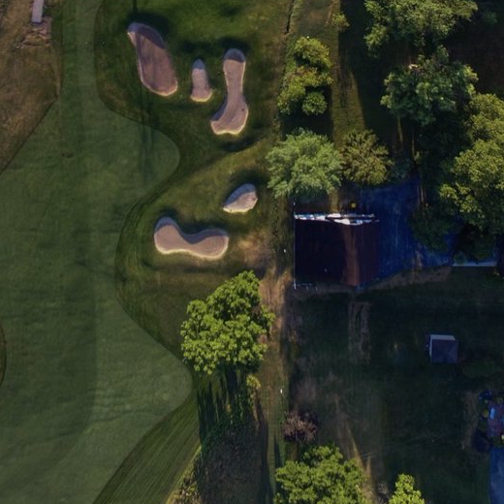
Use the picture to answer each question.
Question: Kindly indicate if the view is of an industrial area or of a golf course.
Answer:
golf course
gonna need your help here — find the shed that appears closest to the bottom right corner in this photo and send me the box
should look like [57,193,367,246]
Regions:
[428,334,457,364]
